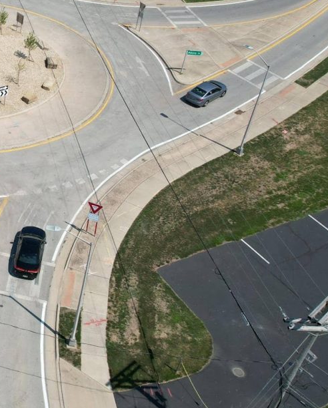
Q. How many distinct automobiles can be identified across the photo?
2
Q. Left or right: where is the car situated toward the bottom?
left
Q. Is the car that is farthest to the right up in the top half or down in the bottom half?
top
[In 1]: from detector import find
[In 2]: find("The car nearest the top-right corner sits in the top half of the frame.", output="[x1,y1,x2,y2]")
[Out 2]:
[180,76,233,106]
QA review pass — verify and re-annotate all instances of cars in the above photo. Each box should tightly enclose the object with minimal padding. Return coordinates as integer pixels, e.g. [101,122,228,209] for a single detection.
[9,220,50,283]
[180,76,233,106]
